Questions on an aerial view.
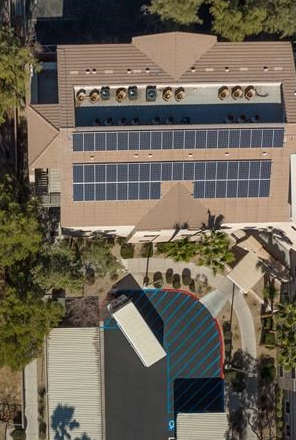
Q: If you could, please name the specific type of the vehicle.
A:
truck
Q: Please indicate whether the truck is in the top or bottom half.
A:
bottom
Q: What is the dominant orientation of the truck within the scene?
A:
at an angle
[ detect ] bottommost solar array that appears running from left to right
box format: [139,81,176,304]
[73,160,272,201]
